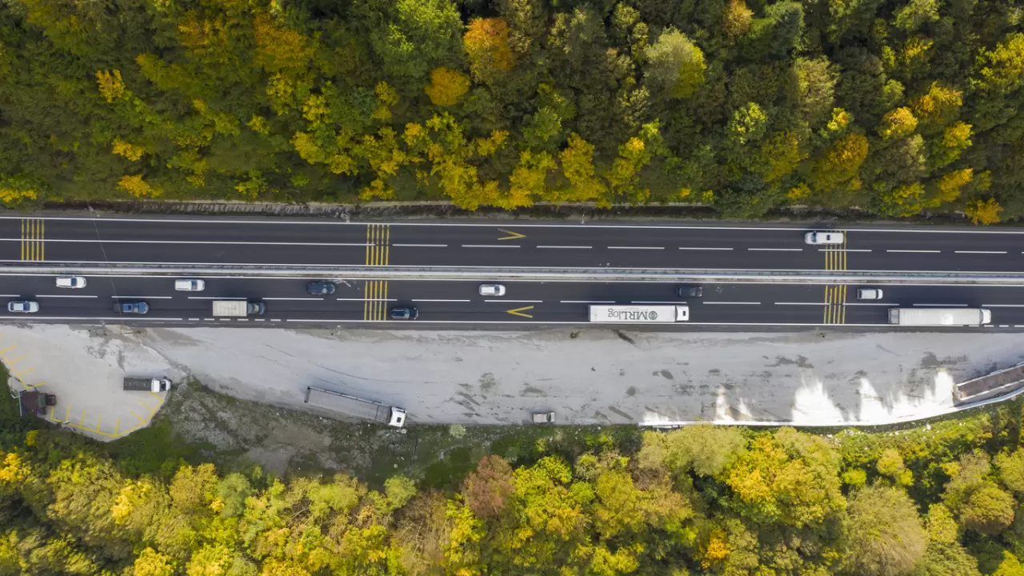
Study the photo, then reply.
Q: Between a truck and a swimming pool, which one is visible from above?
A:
truck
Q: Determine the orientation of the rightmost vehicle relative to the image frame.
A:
horizontally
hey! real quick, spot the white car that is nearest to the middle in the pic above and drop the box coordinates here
[480,284,505,296]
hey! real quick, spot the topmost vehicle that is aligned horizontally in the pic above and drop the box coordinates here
[803,230,846,245]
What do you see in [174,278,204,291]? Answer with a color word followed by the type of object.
white vehicle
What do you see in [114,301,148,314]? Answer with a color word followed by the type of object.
blue vehicle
